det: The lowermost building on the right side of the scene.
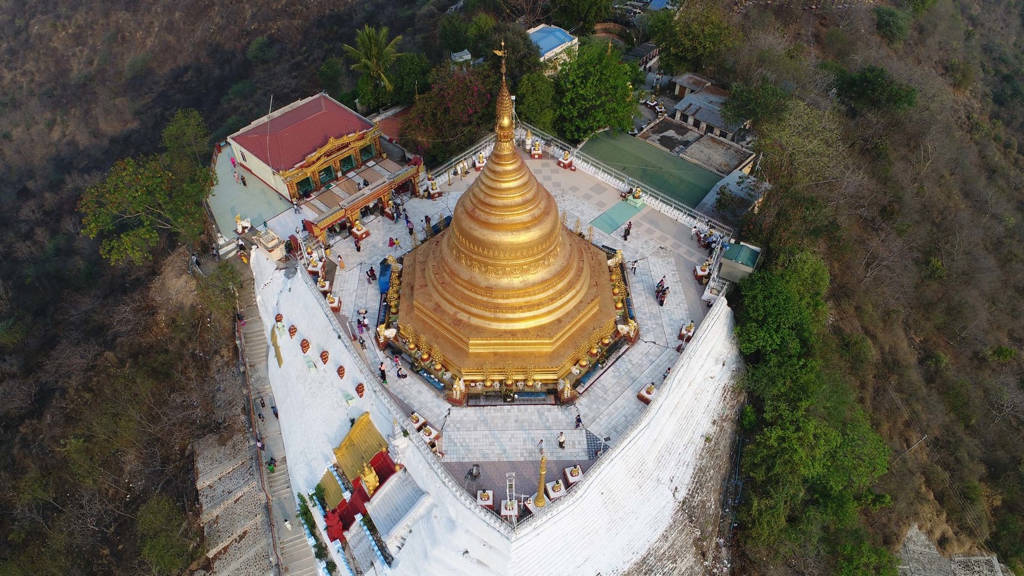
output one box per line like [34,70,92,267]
[719,233,766,325]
